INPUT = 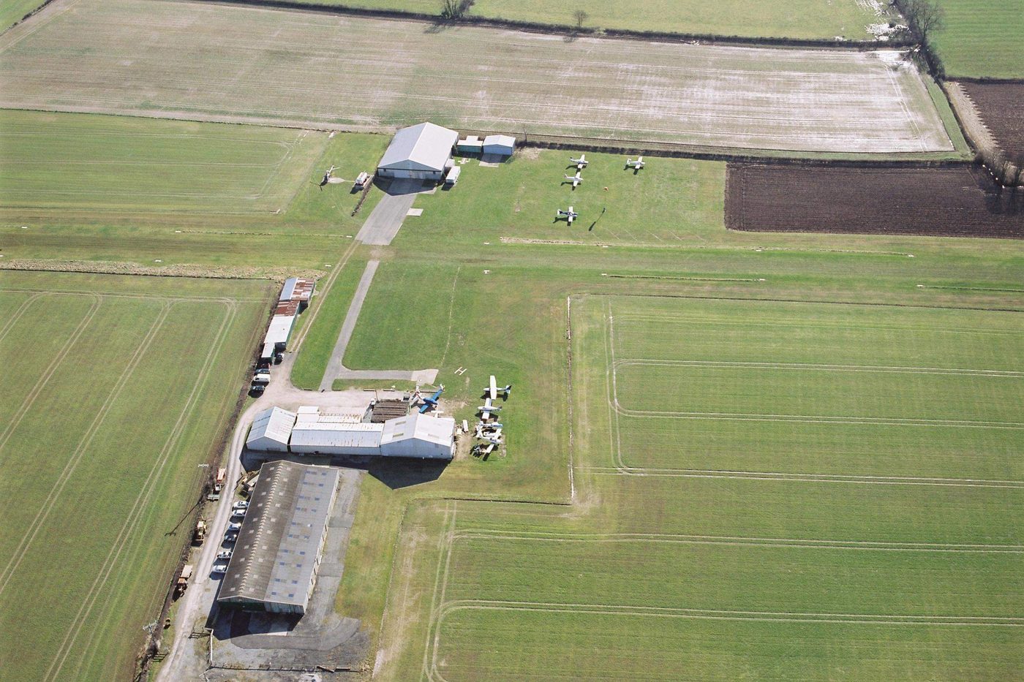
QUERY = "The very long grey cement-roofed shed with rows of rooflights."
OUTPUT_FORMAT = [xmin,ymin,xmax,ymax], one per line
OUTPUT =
[215,458,340,613]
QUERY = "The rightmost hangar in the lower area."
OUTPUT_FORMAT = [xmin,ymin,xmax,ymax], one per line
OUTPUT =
[379,408,456,460]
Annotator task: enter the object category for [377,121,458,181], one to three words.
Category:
hangar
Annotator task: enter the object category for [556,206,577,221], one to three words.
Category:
airplane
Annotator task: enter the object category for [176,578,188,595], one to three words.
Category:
vehicle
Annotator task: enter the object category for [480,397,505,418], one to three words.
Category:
airplane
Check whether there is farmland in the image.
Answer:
Yes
